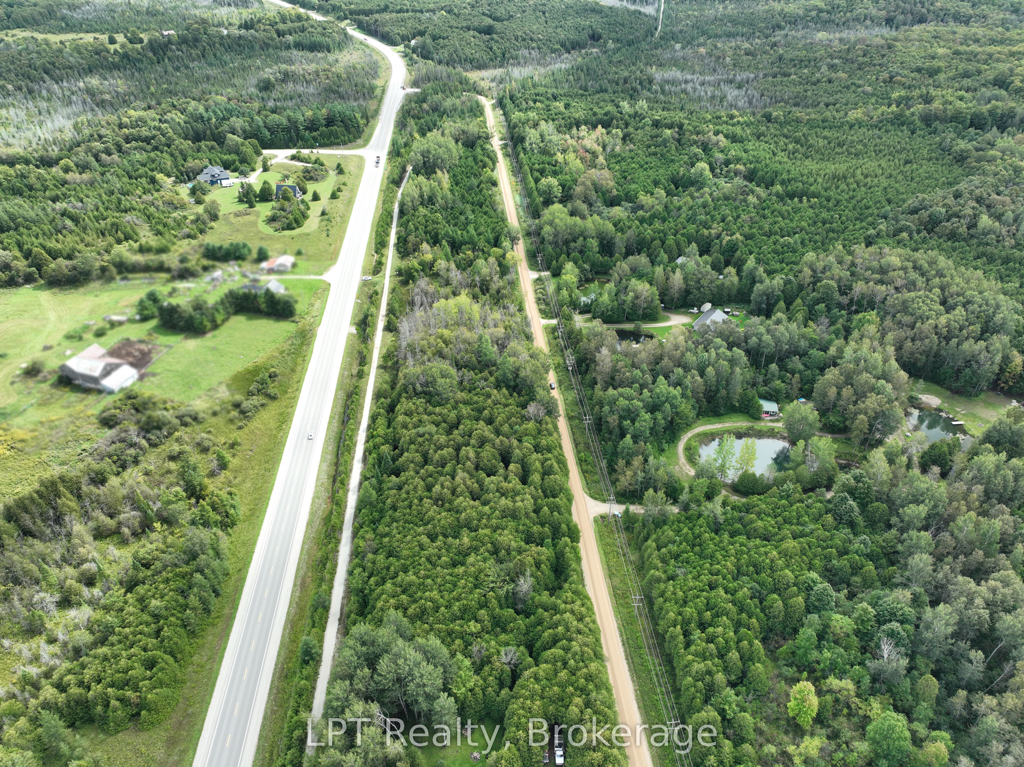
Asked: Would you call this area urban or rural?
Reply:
rural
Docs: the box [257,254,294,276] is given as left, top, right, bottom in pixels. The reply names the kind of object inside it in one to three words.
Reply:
shed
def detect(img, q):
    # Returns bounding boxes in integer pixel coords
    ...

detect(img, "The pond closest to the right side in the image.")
[907,407,973,455]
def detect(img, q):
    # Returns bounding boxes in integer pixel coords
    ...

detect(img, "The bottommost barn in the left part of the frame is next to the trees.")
[65,331,142,392]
